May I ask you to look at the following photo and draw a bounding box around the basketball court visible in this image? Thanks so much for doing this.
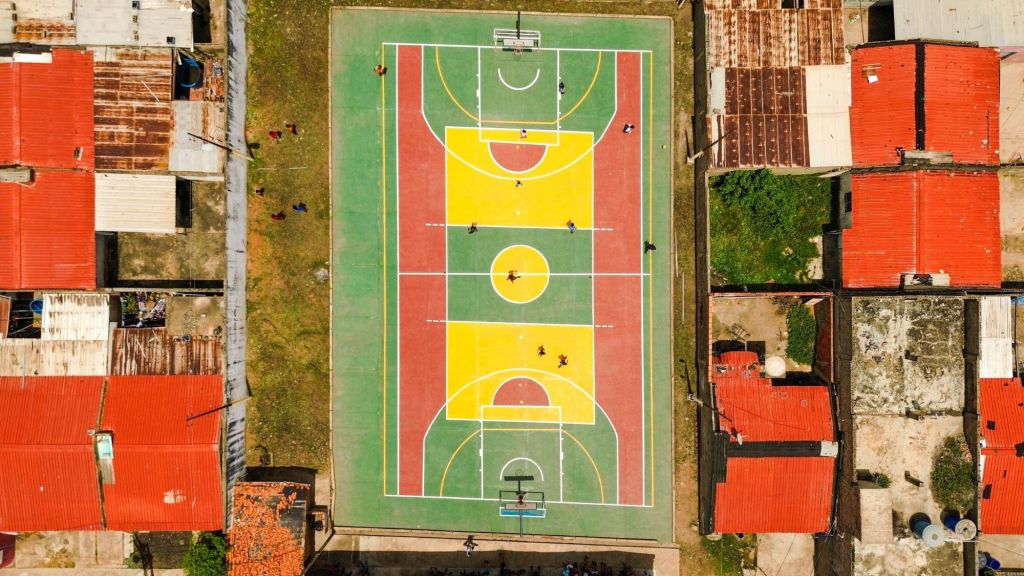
[328,7,676,548]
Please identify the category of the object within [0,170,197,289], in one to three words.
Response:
house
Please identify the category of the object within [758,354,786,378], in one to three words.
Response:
water tank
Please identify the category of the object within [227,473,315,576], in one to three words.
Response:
shed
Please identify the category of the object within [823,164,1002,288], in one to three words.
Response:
house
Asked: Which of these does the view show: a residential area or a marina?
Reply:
residential area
